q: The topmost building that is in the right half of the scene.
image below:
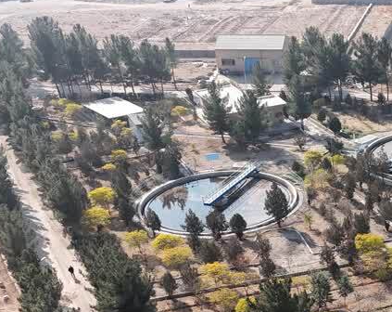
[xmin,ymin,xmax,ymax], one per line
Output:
[210,35,298,77]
